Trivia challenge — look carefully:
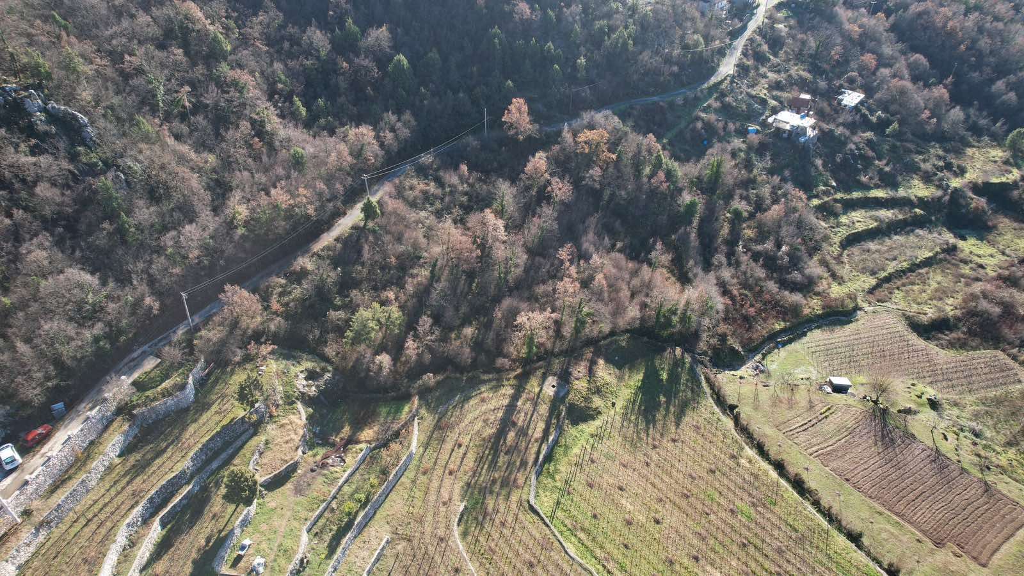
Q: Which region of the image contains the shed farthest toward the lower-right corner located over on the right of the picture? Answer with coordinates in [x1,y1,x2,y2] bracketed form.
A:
[827,376,852,393]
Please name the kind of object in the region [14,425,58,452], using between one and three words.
car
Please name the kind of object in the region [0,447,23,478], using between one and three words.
car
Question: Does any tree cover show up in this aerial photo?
Yes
